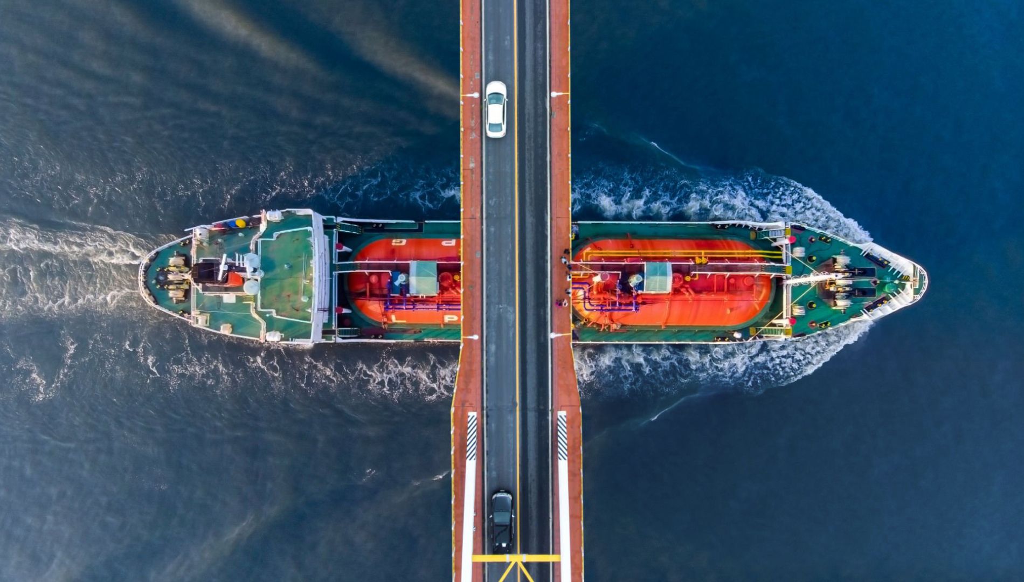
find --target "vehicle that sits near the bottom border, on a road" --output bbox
[488,489,516,554]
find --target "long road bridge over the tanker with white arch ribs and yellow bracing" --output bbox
[462,407,571,582]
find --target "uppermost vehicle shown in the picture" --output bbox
[483,82,509,139]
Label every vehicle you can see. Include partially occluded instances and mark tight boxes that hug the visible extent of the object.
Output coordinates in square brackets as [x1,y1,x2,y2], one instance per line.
[488,489,516,554]
[483,82,509,139]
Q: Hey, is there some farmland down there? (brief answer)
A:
No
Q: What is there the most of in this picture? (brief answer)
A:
water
